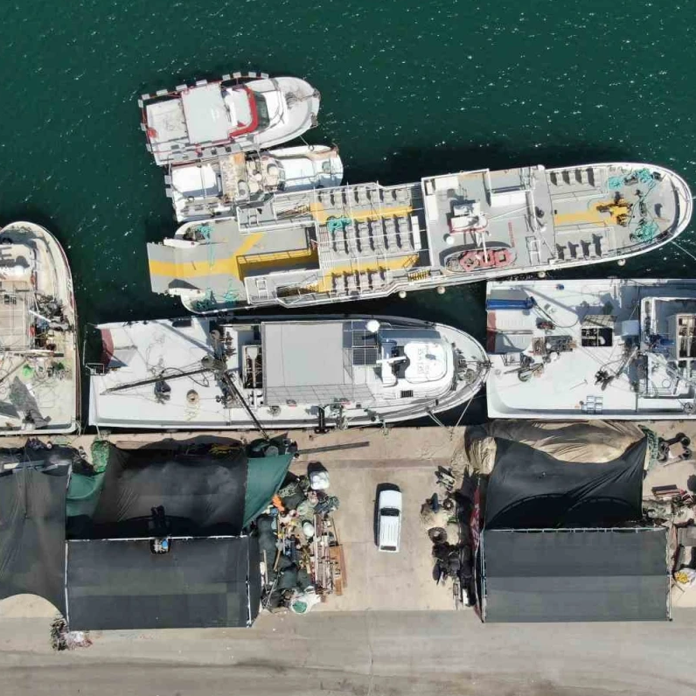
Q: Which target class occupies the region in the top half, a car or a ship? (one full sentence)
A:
The one visible in the top half is a ship.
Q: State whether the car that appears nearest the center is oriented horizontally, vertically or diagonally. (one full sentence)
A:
The car that appears nearest the center has been laid out vertically relative to the frame.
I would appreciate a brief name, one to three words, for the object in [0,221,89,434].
boat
